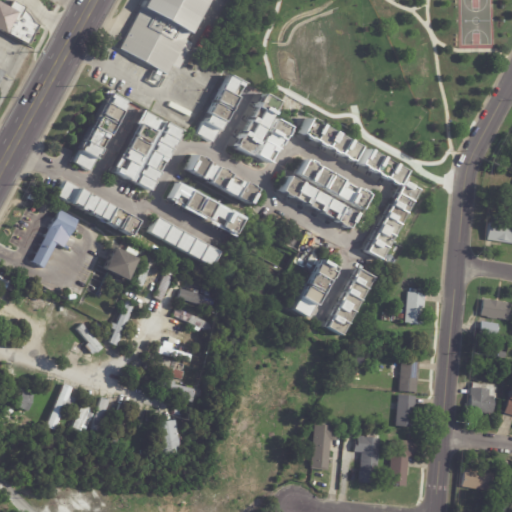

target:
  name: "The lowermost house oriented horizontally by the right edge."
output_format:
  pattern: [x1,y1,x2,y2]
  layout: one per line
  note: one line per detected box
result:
[459,472,495,488]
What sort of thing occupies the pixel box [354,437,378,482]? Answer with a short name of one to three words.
house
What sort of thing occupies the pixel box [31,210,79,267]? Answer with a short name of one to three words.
building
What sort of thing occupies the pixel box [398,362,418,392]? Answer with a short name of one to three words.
house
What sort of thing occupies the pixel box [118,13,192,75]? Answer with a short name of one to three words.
building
